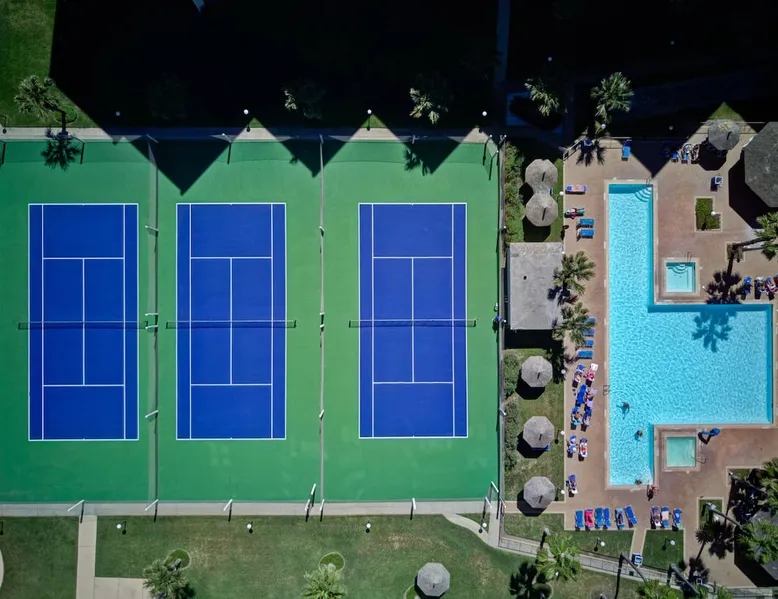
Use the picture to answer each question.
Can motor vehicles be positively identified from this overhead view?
No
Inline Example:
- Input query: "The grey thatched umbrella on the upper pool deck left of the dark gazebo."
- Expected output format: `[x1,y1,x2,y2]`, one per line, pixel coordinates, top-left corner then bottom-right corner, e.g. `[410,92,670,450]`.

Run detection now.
[706,117,740,151]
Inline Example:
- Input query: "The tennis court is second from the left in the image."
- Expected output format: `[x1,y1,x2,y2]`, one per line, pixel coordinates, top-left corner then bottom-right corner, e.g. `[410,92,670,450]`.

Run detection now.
[158,141,322,502]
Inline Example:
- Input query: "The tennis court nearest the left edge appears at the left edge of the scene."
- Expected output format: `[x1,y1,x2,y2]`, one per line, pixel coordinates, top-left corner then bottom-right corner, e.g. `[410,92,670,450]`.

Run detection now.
[0,141,158,503]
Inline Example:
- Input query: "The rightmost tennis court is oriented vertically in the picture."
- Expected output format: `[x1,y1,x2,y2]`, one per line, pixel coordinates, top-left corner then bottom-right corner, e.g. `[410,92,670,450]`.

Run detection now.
[322,141,500,502]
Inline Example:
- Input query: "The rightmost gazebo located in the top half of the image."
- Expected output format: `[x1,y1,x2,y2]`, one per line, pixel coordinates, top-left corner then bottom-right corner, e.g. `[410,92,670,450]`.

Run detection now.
[735,124,778,207]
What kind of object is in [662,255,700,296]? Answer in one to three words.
swimming pool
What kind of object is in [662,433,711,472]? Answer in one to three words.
swimming pool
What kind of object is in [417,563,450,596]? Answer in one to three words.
umbrella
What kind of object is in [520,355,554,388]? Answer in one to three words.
umbrella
